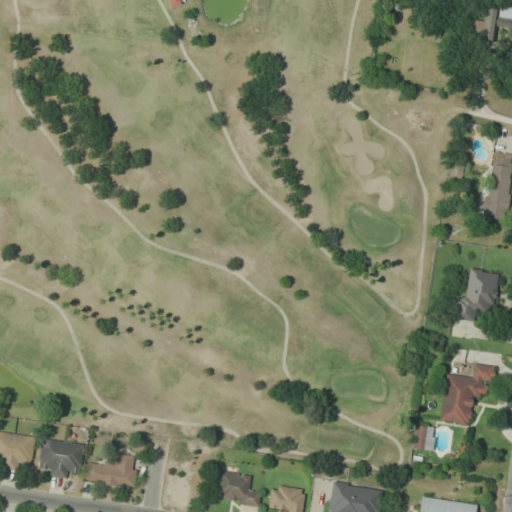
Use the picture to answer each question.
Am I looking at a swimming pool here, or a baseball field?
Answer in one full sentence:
The image shows a swimming pool.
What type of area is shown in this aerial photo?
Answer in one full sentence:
The area seen from above is a golf course.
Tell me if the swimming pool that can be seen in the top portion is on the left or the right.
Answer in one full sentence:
The swimming pool that can be seen in the top portion appears in the right half of the scene.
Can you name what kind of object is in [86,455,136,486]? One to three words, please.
house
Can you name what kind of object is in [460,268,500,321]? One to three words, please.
house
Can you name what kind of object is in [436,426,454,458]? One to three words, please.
swimming pool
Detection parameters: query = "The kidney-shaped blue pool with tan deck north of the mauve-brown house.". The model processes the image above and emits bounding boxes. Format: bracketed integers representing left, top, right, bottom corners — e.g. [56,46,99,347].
[472,134,492,166]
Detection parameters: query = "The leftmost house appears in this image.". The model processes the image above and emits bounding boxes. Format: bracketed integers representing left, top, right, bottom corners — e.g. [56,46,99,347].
[0,432,36,471]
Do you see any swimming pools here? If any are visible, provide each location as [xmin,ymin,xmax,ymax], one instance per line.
[472,134,492,166]
[436,426,454,458]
